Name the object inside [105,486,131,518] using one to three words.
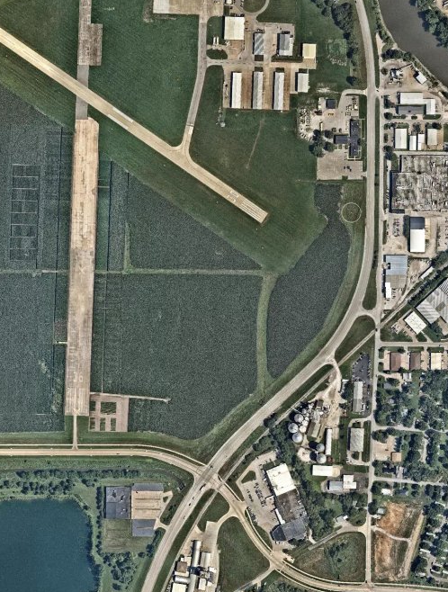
building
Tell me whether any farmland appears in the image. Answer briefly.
Yes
